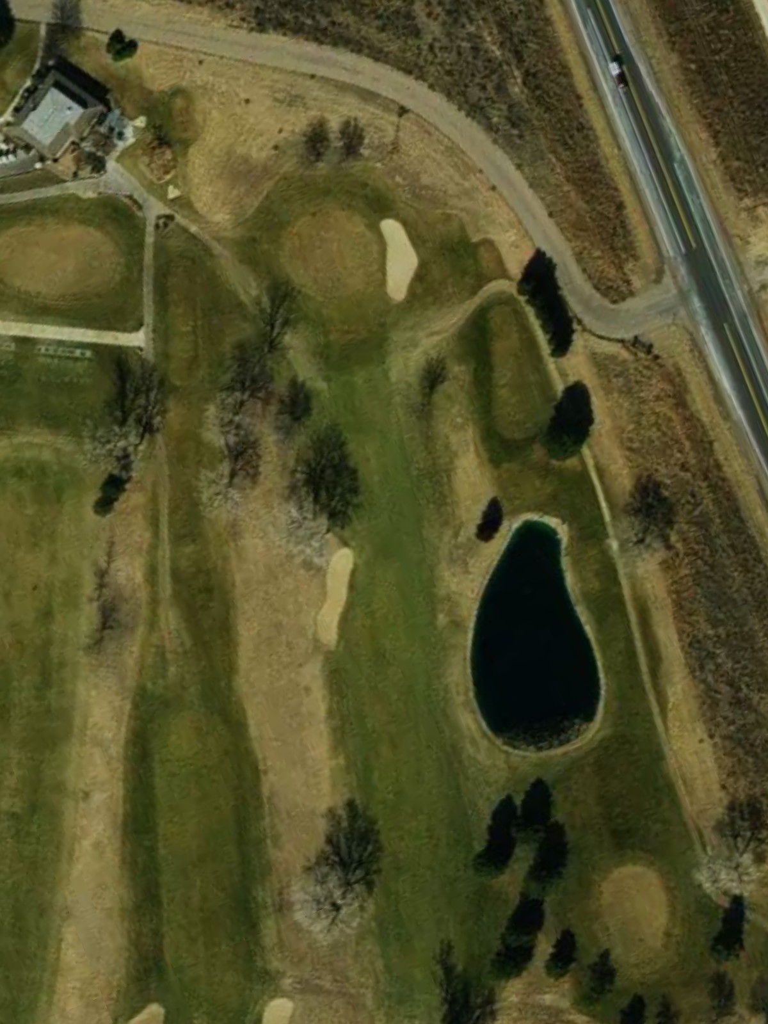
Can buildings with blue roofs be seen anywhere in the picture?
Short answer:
No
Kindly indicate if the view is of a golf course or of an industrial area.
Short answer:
golf course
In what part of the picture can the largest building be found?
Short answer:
top left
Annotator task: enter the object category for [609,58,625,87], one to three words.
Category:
vehicle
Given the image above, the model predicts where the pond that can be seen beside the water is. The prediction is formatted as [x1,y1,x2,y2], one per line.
[471,518,601,748]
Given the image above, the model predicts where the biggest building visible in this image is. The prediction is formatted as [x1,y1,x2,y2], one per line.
[1,71,108,161]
